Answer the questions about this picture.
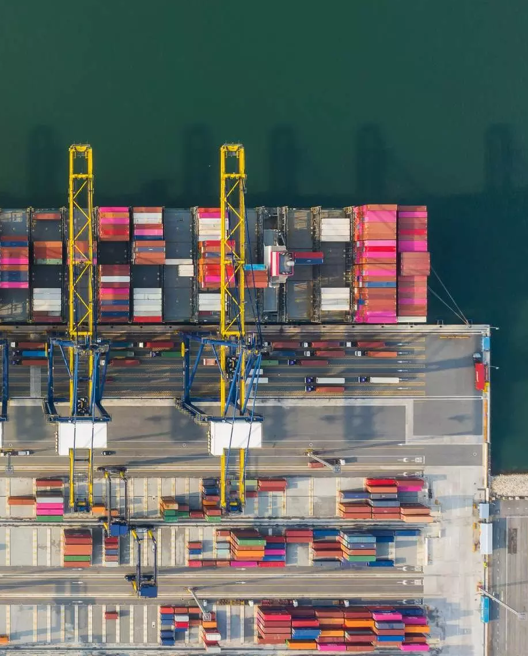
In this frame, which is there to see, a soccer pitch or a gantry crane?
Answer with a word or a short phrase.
gantry crane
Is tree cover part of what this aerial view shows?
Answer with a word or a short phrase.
No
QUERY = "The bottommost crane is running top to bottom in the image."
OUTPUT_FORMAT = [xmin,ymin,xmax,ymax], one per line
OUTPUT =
[126,525,159,600]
